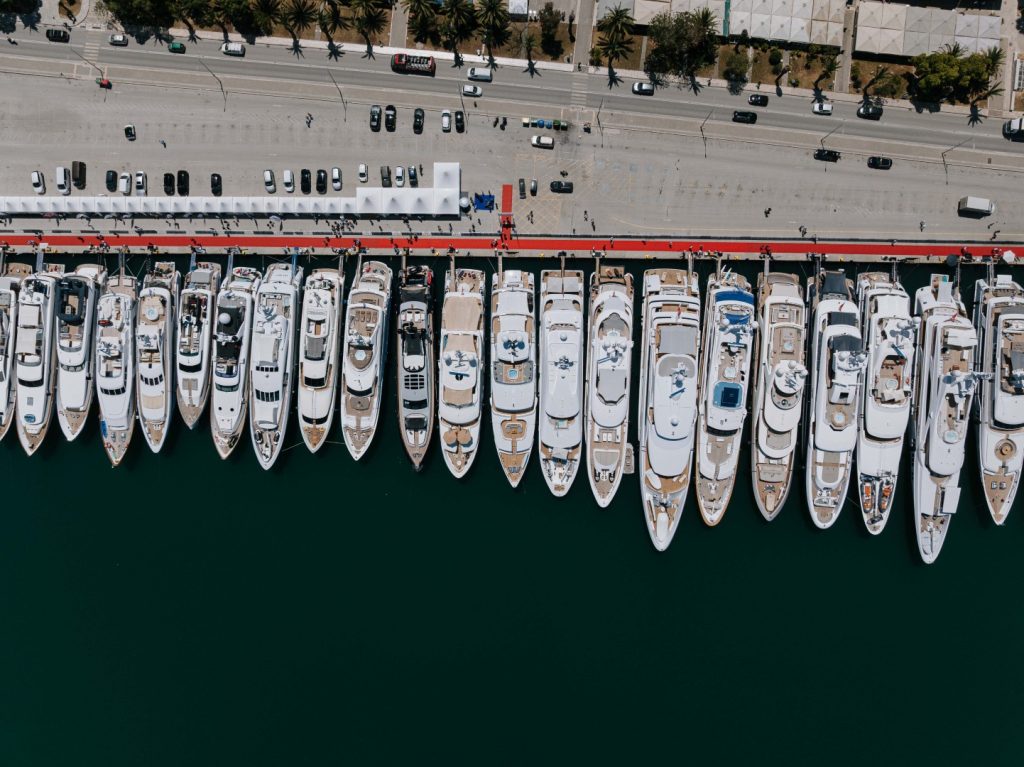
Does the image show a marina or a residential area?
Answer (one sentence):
The area seen from above is a marina.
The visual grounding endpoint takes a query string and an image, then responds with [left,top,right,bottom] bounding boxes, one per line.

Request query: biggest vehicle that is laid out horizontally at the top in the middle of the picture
[388,53,435,77]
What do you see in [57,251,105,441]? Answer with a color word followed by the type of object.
white boat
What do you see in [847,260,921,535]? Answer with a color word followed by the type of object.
white boat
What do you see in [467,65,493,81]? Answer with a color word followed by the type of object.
white vehicle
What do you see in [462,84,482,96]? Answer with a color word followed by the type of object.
white vehicle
